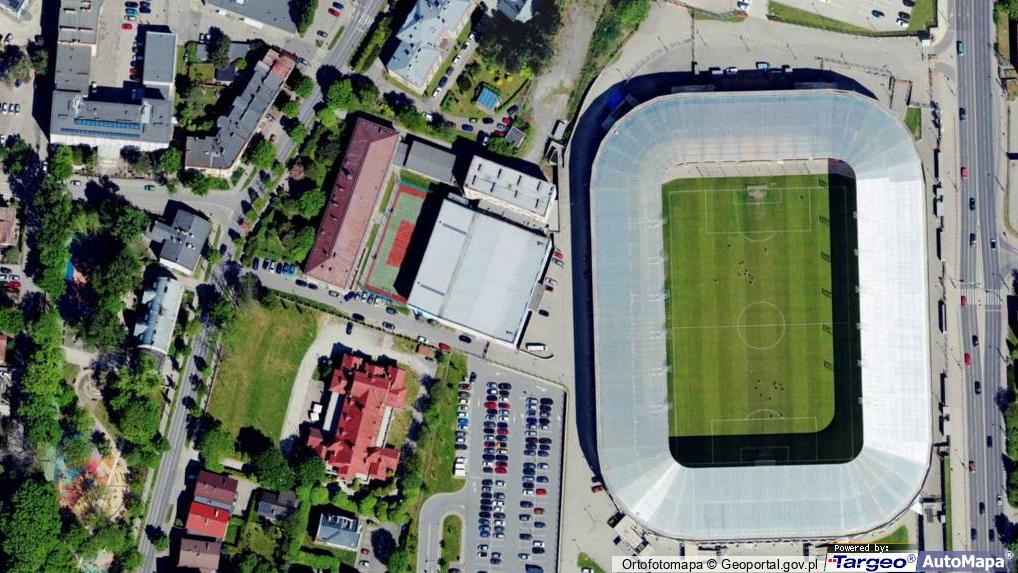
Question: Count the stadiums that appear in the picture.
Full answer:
There is 1 stadium in the image.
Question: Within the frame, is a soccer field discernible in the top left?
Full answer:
No, there's no soccer field to be seen in the top left.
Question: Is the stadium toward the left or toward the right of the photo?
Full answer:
The stadium sits on the right side.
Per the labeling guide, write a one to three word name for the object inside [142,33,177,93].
building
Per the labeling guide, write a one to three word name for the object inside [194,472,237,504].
house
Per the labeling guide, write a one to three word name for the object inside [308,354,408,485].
building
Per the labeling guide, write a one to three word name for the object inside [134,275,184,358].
house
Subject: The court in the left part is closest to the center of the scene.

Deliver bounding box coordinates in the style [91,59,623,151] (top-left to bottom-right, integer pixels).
[362,176,439,306]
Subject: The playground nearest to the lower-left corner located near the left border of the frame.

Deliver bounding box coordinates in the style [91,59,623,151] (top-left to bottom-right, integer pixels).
[41,451,125,523]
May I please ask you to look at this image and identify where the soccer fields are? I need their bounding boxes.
[664,173,862,467]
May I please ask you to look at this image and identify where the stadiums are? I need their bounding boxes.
[589,85,936,546]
